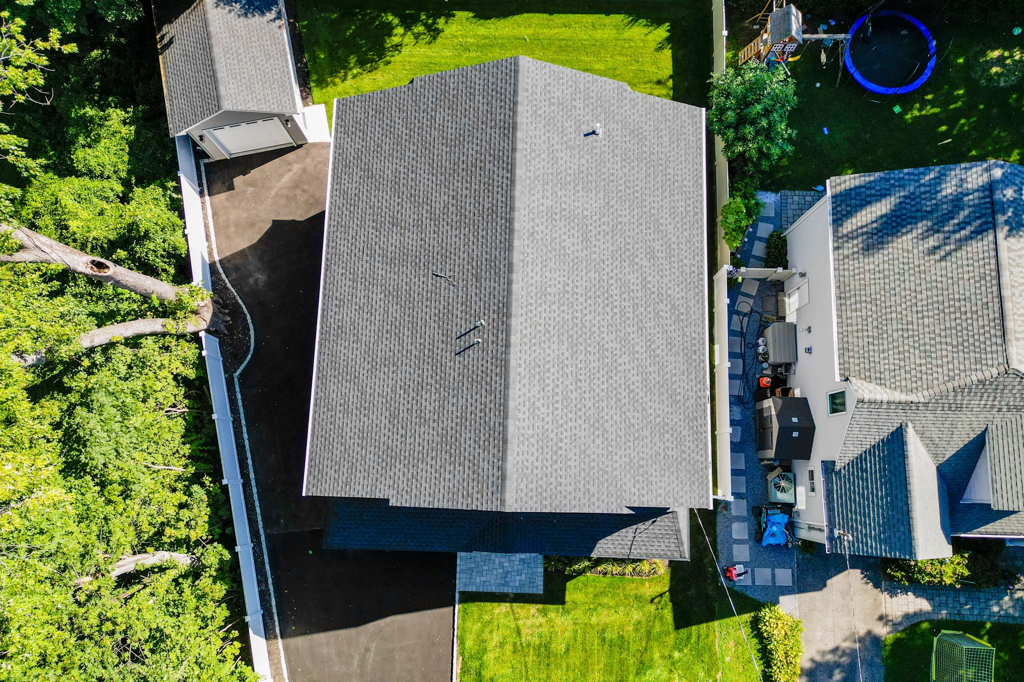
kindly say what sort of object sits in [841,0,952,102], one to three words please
trampoline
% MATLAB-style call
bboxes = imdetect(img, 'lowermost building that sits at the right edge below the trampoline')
[779,162,1024,559]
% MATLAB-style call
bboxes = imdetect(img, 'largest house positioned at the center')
[293,54,716,516]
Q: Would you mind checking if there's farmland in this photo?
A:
No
